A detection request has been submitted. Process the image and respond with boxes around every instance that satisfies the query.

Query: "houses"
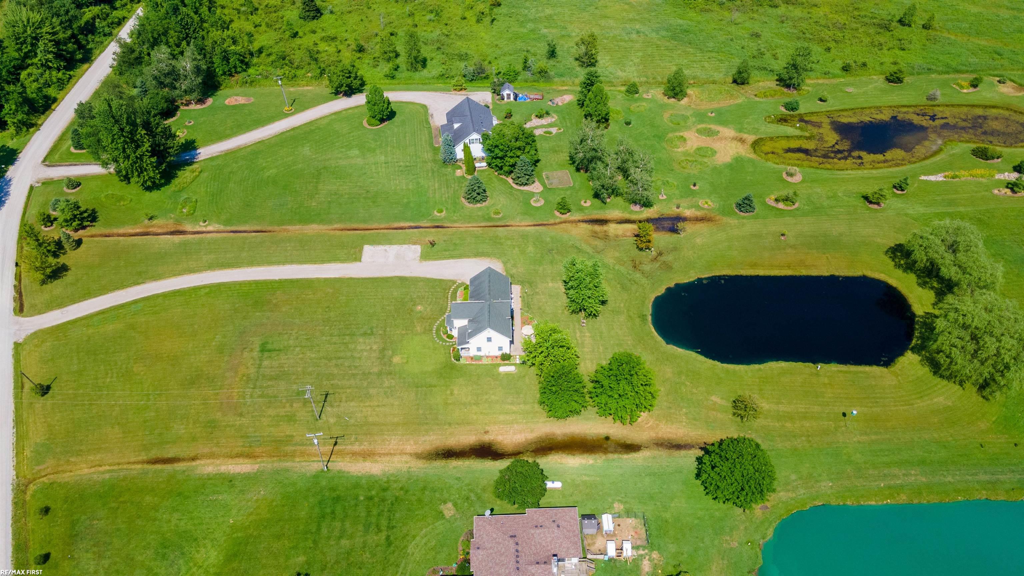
[439,96,498,159]
[468,508,584,576]
[446,267,512,357]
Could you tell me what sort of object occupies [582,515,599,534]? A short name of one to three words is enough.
shed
